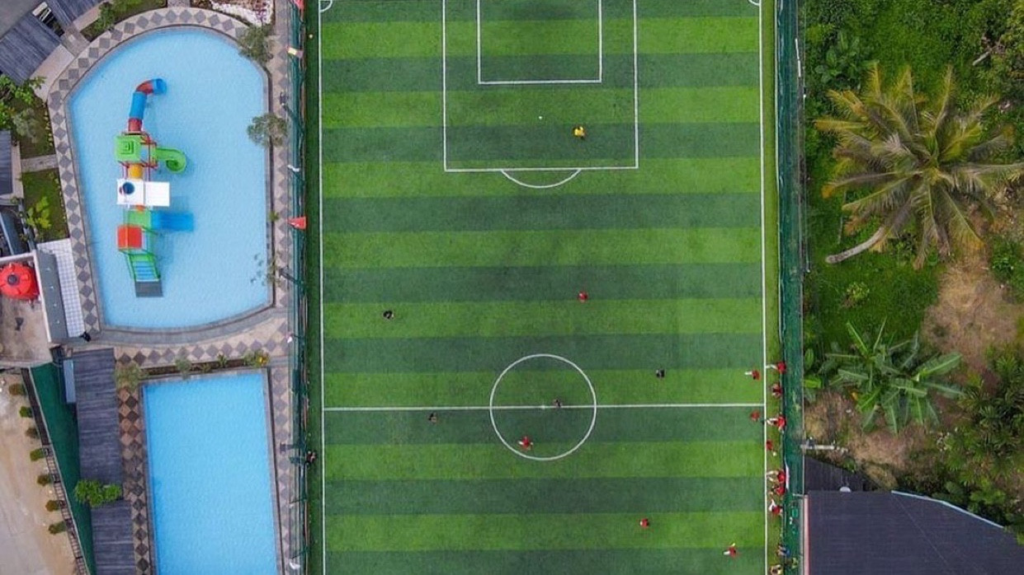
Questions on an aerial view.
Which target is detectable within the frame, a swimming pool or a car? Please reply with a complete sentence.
It is a swimming pool that can be seen here.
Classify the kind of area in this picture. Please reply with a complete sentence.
It's a sports ground.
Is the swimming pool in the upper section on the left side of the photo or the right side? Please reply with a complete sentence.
The swimming pool in the upper section is on the left side of the image.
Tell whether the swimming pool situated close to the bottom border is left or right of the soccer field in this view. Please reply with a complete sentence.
Relative to the soccer field, the swimming pool situated close to the bottom border is on the left.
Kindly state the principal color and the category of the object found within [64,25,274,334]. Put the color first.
blue swimming pool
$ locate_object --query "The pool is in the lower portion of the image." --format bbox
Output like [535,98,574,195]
[141,369,282,575]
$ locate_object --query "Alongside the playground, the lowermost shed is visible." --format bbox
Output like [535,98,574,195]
[73,349,125,504]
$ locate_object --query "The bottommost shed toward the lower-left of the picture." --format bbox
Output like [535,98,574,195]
[91,502,137,575]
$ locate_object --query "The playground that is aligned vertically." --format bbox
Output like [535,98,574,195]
[116,75,194,297]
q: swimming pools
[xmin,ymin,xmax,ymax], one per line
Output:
[141,369,282,575]
[64,25,274,334]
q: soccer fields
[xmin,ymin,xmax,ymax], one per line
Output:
[305,0,782,575]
